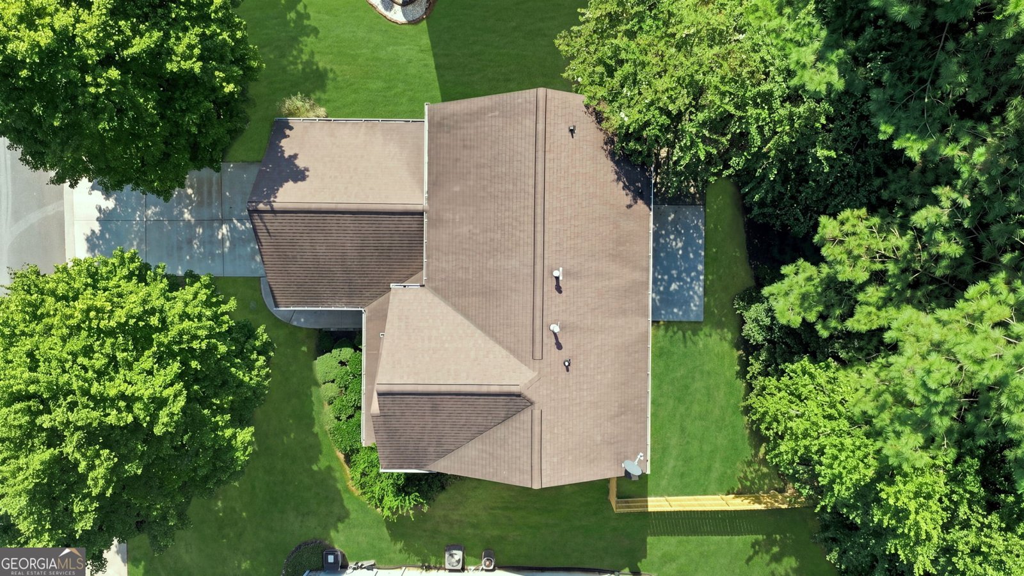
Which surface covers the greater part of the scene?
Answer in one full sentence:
The bulk of the photo consists of trees.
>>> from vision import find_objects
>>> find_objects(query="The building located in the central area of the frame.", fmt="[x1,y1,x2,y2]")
[246,89,653,490]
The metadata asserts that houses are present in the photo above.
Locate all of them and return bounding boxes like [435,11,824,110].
[299,565,643,576]
[246,89,653,490]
